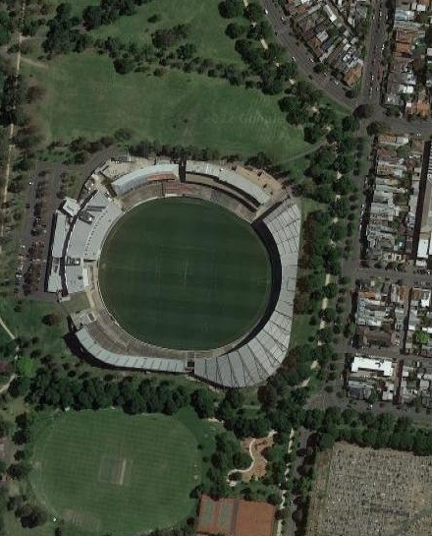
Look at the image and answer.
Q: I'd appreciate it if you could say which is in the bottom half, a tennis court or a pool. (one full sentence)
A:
It is a tennis court that can be seen in the bottom half.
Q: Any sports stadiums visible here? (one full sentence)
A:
Yes, there's a sports stadium here.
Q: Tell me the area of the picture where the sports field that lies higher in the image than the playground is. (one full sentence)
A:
Look in the center portion of the view to spot the sports field that lies higher in the image than the playground.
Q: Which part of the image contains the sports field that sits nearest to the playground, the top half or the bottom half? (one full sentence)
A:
The sports field that sits nearest to the playground is in the bottom half of the image.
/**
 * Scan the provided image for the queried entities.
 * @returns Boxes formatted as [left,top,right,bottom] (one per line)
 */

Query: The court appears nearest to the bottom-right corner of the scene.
[236,499,275,536]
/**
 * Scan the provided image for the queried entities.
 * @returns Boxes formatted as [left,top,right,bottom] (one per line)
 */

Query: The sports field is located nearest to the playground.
[30,412,202,536]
